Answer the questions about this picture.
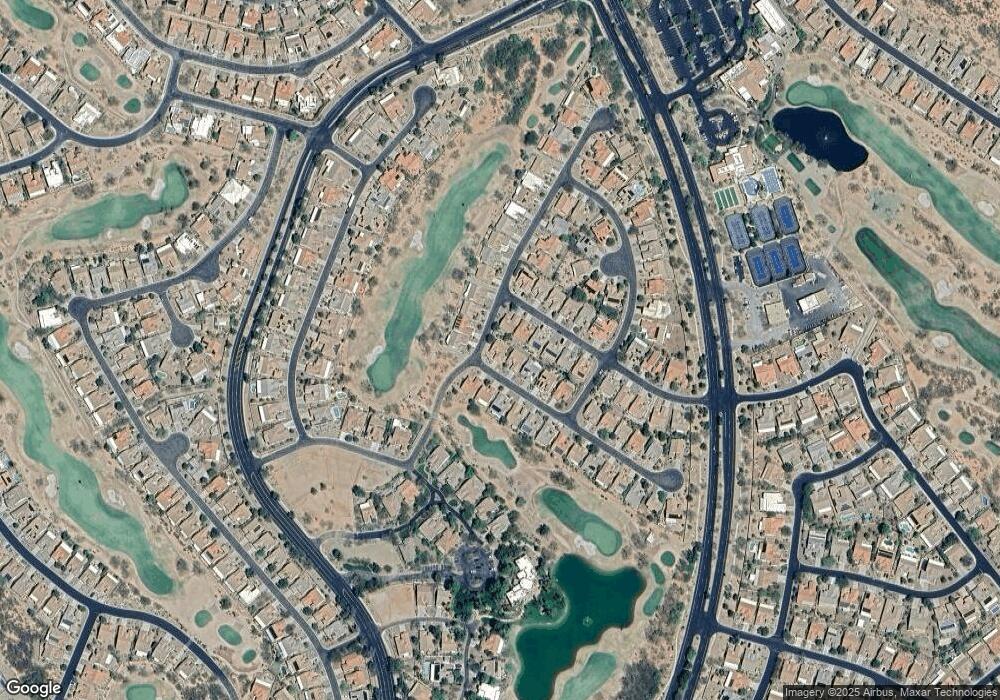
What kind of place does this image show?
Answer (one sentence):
The picture captures a residential area.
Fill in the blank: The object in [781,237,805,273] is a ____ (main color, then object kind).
blue tennis court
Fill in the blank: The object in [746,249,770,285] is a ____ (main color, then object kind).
blue tennis court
